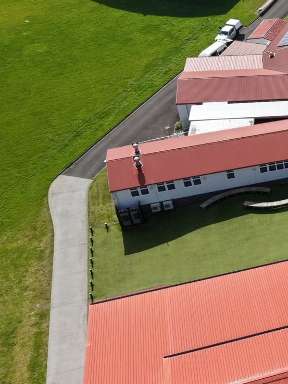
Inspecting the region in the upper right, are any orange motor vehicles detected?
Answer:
No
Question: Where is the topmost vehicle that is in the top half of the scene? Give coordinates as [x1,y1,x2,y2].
[215,13,242,43]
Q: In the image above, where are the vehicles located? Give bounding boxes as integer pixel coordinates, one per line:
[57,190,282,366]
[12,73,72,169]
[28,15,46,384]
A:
[196,35,229,57]
[215,13,242,43]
